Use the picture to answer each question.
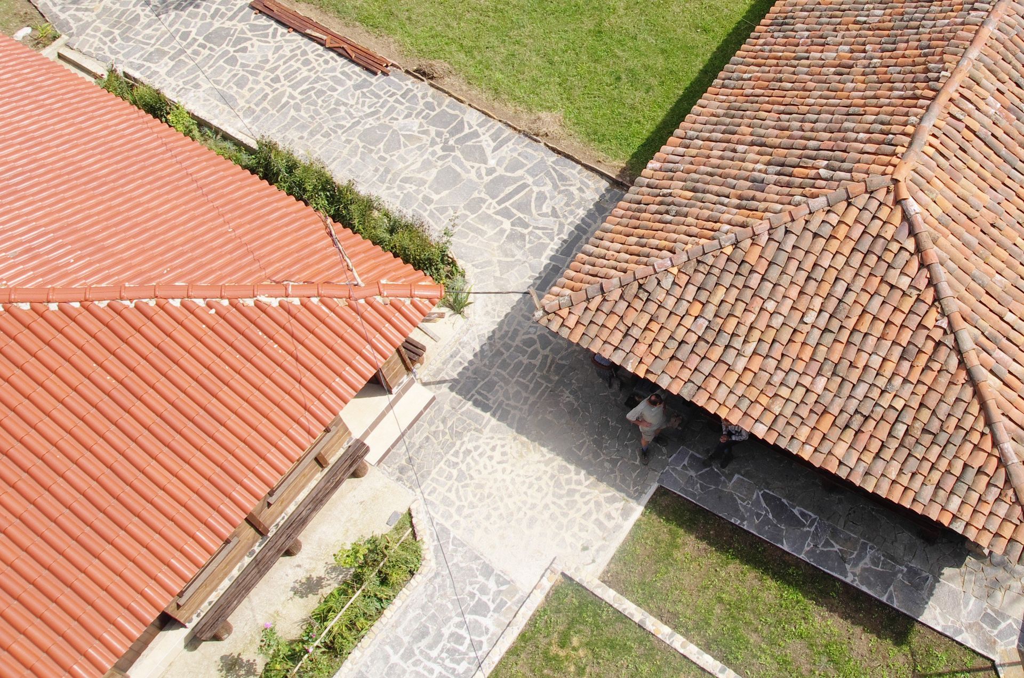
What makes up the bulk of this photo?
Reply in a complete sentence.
The scene is dominated by buildings.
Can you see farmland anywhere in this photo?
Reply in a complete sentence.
No, no farmland is visible.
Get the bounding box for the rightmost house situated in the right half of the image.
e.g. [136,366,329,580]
[534,0,1024,570]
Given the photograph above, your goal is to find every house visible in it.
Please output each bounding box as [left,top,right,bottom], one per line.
[534,0,1024,570]
[0,27,447,678]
